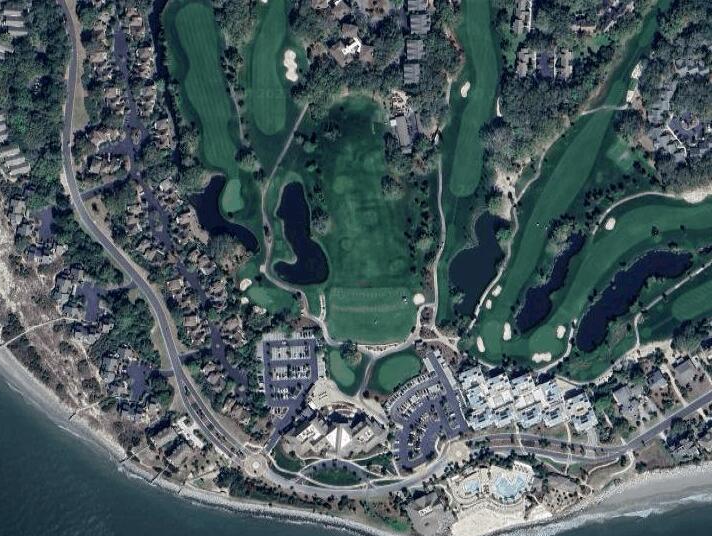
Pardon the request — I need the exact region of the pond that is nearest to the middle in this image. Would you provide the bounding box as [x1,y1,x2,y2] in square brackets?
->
[273,182,328,284]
